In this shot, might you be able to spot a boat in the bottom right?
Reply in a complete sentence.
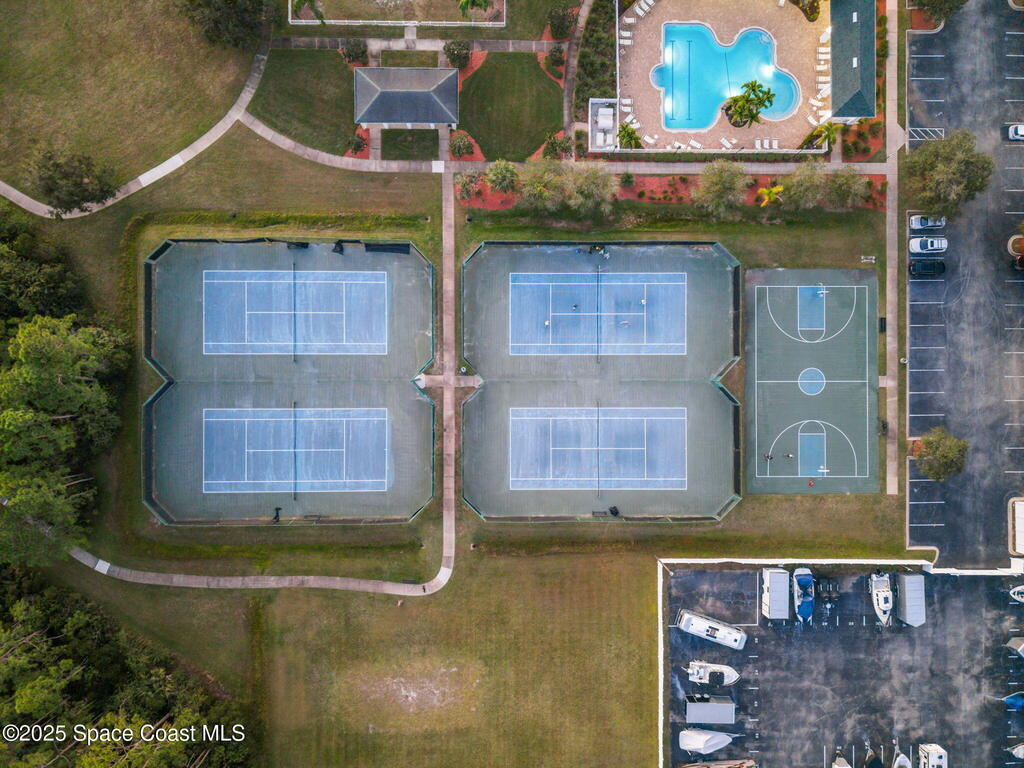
Yes, looking in the bottom right, one can make out a boat.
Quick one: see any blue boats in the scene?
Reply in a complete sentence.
Yes, there's a blue boat here.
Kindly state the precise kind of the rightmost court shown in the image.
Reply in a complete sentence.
Looking closely, the rightmost court is a basketball court.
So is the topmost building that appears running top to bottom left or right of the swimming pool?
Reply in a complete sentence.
Compared with the swimming pool, the topmost building that appears running top to bottom is located further to the right.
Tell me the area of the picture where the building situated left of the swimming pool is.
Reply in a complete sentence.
The building situated left of the swimming pool is located in the top region of the scene.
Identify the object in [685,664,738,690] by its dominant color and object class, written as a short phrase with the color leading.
white boat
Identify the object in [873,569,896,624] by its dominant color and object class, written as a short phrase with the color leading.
white boat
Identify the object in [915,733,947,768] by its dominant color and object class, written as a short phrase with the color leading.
white camper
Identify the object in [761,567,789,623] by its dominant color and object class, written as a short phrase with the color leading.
white trailer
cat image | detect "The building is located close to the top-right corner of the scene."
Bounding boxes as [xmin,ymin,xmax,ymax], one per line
[826,0,876,133]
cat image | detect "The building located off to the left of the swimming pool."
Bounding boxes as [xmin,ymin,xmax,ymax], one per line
[354,67,460,130]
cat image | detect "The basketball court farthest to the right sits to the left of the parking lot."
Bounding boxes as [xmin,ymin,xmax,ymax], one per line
[745,268,879,494]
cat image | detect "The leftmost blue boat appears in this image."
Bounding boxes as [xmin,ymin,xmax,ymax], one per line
[794,569,814,623]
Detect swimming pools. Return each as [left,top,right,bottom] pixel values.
[648,20,804,133]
